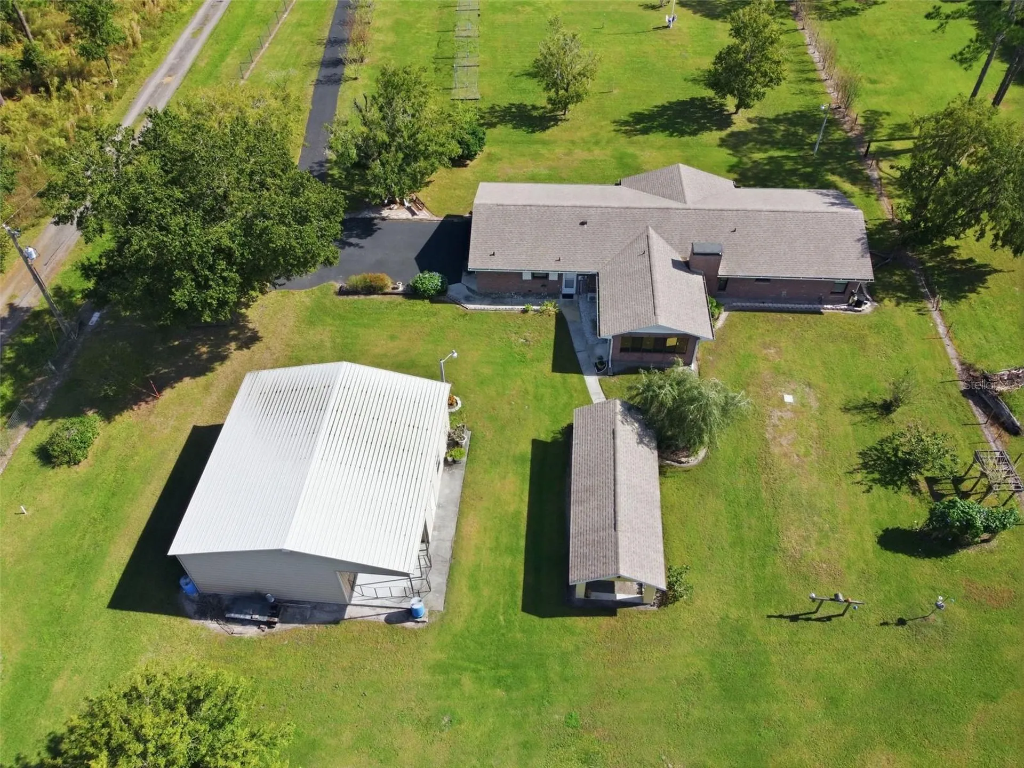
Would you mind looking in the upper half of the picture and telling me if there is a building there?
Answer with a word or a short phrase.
Yes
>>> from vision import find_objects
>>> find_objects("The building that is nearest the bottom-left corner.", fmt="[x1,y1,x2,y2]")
[167,361,451,606]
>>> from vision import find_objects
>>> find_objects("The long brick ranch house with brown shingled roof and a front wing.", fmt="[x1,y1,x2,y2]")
[468,162,874,368]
